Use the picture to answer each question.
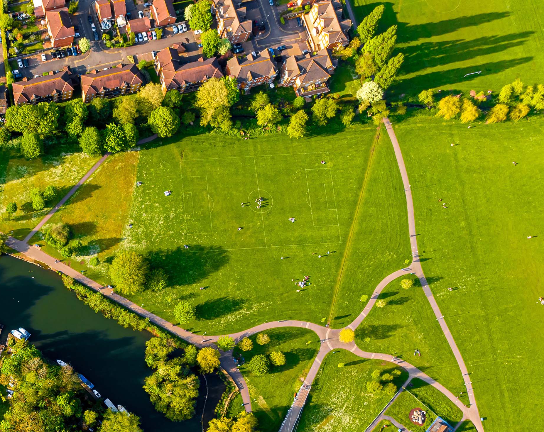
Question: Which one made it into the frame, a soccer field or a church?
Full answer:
The one in the frame is a soccer field.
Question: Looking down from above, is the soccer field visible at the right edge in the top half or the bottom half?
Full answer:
It is in the top half that the soccer field visible at the right edge appears.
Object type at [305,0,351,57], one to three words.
building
